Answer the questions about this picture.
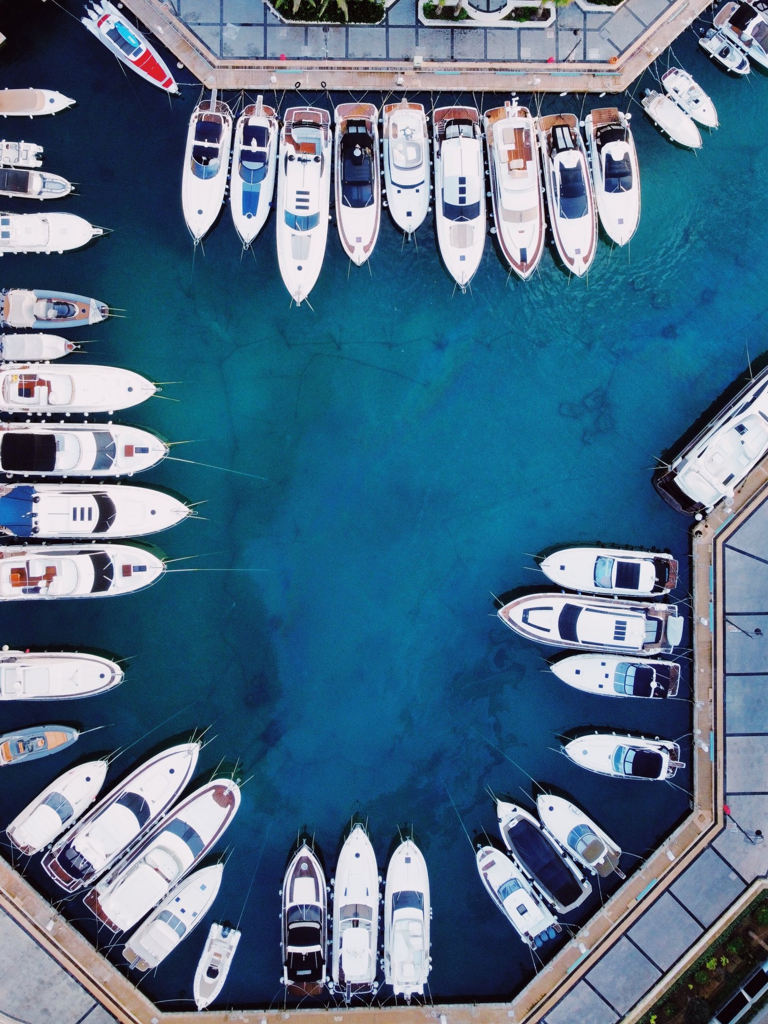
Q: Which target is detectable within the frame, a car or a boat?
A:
boat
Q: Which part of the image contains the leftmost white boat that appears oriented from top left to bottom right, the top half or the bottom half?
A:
top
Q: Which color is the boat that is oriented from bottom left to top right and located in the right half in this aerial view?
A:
white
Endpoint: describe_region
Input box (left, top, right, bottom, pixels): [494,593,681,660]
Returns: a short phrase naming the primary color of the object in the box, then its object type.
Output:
white boat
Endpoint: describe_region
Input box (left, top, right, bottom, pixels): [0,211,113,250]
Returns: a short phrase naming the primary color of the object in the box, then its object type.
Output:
white boat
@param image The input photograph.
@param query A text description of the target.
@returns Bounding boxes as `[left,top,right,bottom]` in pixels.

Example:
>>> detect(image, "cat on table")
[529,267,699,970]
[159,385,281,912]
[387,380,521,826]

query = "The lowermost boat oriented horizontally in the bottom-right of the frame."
[559,731,685,782]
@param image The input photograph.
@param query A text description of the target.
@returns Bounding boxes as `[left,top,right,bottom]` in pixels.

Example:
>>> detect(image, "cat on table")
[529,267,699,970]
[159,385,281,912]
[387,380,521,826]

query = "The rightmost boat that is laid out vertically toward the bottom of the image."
[667,613,684,648]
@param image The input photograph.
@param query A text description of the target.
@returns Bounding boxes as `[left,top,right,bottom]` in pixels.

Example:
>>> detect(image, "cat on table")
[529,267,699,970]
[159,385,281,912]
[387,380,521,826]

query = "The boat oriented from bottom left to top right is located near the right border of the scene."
[656,360,768,511]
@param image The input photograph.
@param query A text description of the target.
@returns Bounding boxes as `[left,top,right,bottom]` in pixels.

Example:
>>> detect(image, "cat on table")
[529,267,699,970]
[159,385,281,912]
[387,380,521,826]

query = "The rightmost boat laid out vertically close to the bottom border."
[385,834,432,1006]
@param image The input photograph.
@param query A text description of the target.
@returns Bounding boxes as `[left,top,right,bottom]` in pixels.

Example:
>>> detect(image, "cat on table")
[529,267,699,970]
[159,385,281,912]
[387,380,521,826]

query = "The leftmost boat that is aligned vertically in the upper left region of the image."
[180,89,231,246]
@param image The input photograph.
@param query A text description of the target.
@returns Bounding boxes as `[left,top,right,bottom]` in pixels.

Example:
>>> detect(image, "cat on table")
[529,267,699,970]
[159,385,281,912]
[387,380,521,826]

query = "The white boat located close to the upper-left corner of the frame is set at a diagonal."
[84,0,182,97]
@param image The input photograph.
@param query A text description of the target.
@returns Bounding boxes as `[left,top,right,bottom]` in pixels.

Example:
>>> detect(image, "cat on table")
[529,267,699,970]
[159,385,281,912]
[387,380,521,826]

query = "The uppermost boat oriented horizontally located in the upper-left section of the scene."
[0,88,76,117]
